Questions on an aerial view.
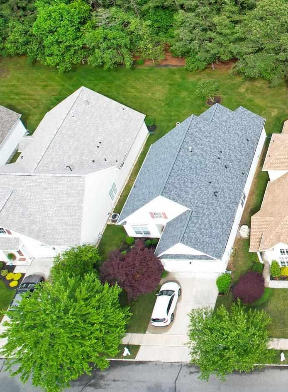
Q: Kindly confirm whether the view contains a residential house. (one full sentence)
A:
Yes, looking at the shot, I can spot a residential house.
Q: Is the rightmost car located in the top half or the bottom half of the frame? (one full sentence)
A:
The rightmost car is in the bottom half of the image.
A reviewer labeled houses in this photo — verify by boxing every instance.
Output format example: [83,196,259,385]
[114,102,270,274]
[0,85,153,267]
[246,120,288,271]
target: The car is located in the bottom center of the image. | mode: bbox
[150,283,182,327]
